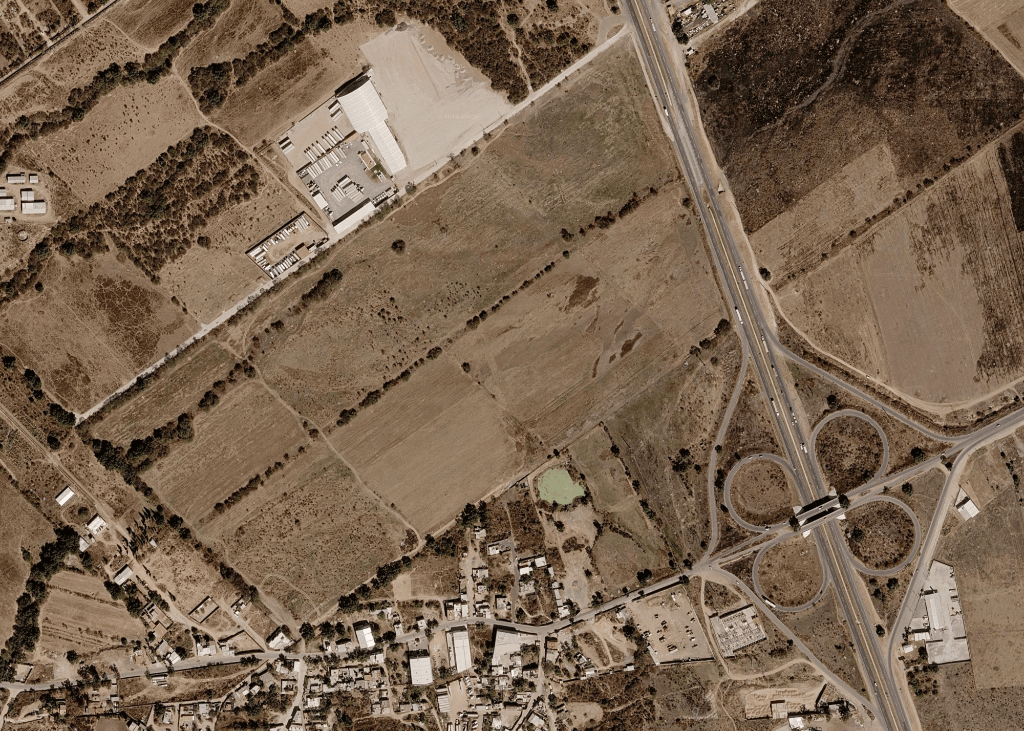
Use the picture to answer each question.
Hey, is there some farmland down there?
Yes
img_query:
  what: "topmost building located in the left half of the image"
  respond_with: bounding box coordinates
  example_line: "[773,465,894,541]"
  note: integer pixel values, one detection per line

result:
[338,78,388,132]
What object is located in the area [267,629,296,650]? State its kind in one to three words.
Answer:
house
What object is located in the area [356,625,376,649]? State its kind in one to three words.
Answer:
building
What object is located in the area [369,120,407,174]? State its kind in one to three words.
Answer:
building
